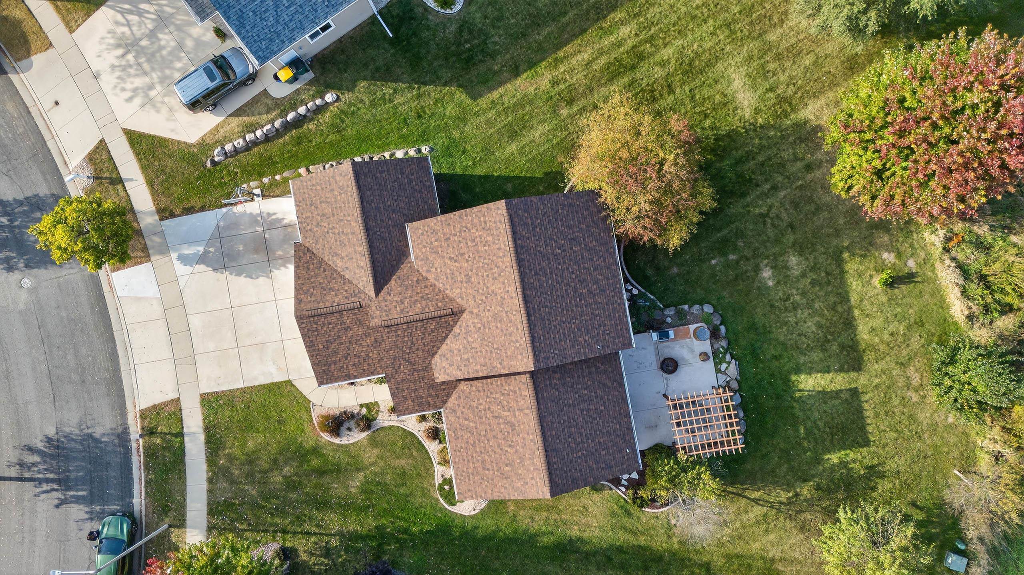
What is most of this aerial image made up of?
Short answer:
grass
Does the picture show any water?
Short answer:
No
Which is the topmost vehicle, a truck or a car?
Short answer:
car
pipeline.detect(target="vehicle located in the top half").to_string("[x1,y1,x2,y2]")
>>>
[171,46,257,116]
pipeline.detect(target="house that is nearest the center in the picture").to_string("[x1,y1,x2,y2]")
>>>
[288,157,642,503]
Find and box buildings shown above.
[176,0,397,79]
[288,157,642,503]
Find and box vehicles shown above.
[171,46,257,116]
[94,512,138,575]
